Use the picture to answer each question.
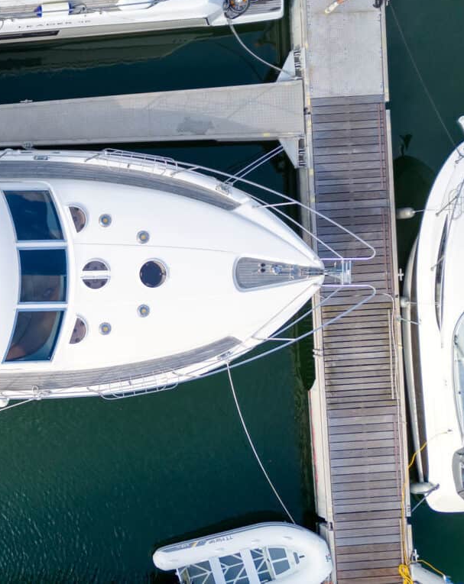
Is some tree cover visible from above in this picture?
No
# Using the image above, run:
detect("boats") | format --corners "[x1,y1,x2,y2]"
[0,147,377,400]
[0,0,283,42]
[159,524,330,584]
[403,117,464,513]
